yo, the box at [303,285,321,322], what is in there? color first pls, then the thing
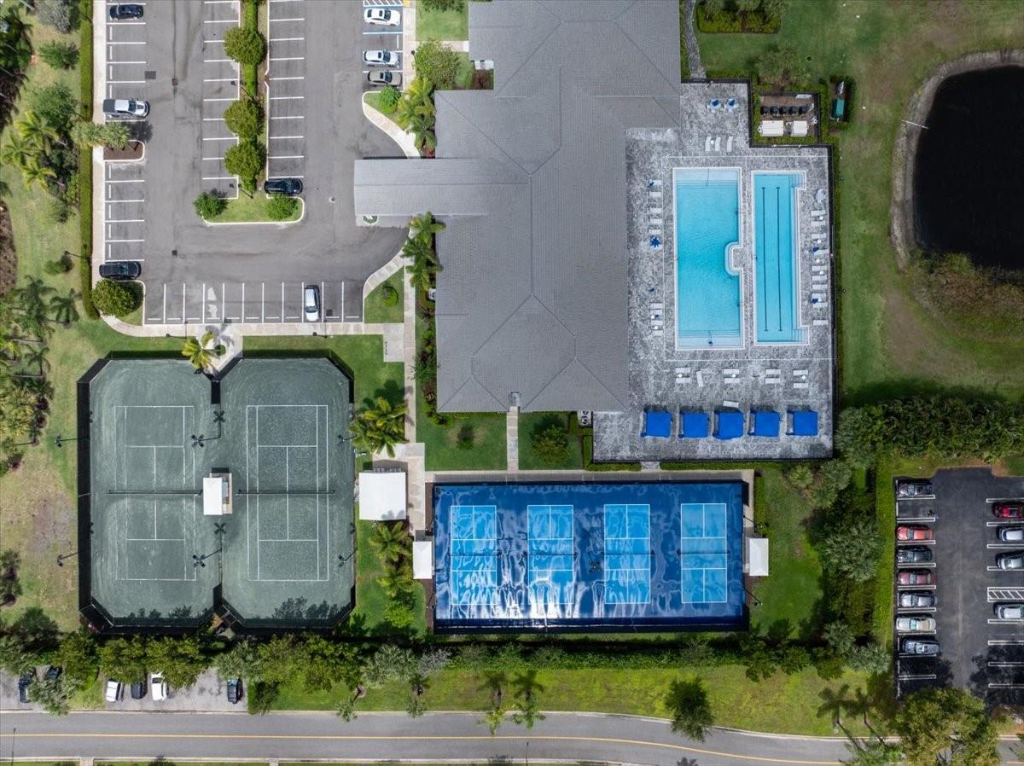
white car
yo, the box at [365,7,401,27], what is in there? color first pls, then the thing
white car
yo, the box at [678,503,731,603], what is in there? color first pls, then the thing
blue sports court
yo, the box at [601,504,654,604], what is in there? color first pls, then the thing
blue sports court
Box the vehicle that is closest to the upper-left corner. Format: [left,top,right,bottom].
[109,2,146,21]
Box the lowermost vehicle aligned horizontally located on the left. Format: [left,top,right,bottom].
[99,261,143,279]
